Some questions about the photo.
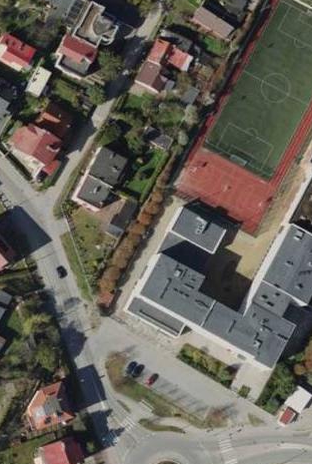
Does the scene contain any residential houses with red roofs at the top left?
Yes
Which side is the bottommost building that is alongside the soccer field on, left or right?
right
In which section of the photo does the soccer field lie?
top right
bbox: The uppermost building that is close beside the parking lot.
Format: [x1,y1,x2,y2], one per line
[124,173,312,368]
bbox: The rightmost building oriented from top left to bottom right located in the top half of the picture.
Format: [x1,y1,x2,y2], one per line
[192,5,234,40]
